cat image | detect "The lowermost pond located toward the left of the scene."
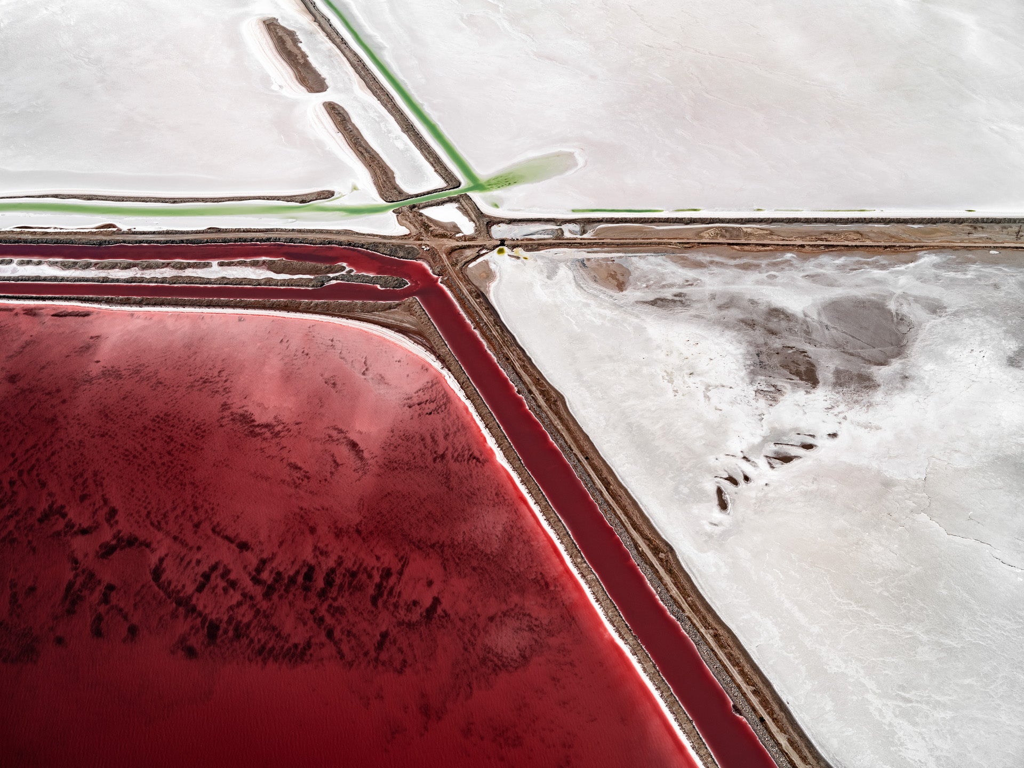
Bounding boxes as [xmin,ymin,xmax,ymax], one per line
[0,304,698,768]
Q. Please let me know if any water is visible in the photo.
Yes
